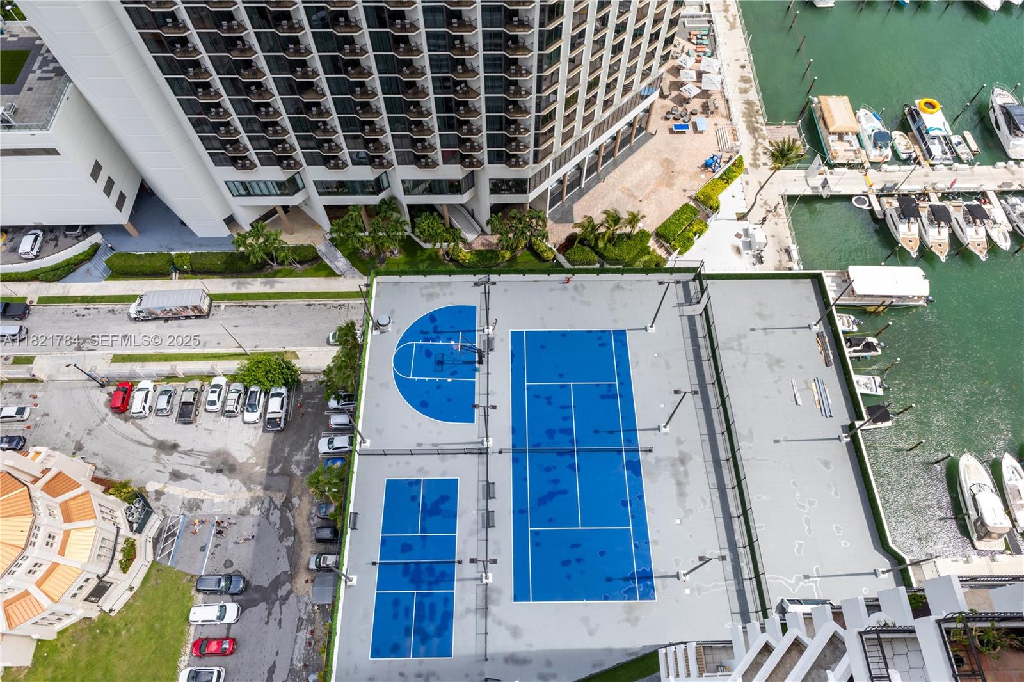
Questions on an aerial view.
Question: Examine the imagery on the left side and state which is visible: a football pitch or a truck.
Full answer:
Visible on the left side is a truck.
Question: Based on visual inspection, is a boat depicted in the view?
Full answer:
Yes, this view includes a boat.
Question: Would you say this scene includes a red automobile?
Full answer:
Yes, there's a red automobile down there.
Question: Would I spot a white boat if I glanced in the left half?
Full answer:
No, I see no white boat in the left half.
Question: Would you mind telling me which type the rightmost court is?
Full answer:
In the photo, the rightmost court shows up as a tennis court.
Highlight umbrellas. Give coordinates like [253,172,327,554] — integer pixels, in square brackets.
[679,71,697,86]
[675,55,698,71]
[697,58,724,75]
[679,84,702,107]
[700,76,722,99]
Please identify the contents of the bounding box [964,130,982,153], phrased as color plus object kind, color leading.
white boat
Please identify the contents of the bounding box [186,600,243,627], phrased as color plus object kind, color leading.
white car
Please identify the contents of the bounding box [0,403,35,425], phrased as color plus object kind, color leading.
white car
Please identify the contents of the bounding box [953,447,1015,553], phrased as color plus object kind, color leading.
white boat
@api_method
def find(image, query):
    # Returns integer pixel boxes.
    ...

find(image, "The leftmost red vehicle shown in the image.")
[113,383,138,414]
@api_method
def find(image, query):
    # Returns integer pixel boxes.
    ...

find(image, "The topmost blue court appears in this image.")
[392,304,477,424]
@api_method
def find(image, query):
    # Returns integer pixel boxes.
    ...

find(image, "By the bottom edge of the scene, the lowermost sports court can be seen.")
[370,478,459,660]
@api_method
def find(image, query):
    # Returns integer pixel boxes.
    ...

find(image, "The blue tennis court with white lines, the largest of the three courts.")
[510,329,657,605]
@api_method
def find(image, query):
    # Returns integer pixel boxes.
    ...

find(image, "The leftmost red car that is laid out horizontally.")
[192,636,240,659]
